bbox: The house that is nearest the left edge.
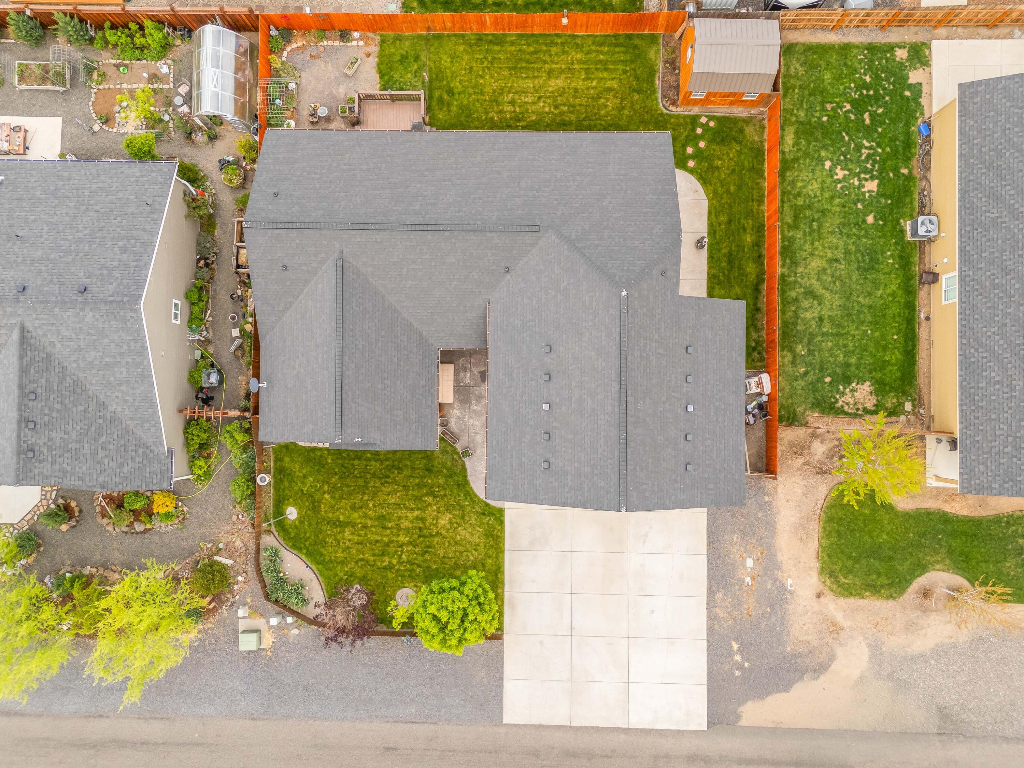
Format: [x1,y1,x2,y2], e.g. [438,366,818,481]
[0,155,198,491]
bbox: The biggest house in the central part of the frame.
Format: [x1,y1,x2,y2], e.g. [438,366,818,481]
[240,128,746,513]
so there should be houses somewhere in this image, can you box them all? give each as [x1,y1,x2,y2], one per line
[240,128,746,513]
[0,155,198,491]
[927,74,1024,497]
